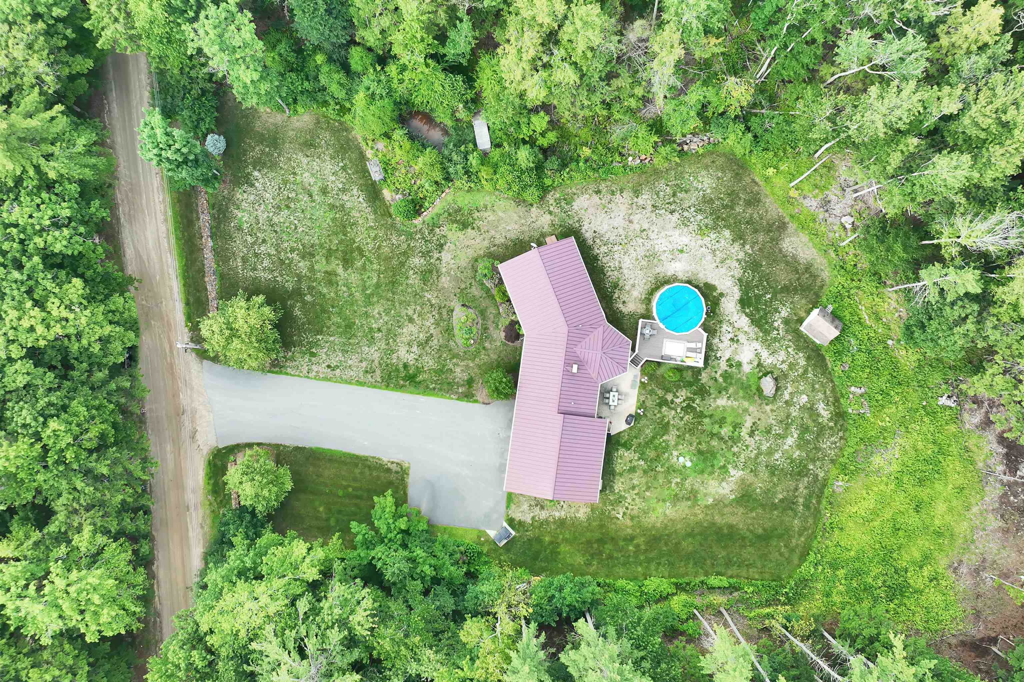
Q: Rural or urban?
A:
rural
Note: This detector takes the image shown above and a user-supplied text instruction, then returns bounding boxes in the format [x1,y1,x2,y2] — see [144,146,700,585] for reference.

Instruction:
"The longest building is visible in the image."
[497,236,633,503]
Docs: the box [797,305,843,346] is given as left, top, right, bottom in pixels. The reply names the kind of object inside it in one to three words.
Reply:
shed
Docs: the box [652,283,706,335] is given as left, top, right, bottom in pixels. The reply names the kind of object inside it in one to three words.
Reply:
swimming pool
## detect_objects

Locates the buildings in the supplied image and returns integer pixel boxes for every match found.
[497,236,633,503]
[797,305,843,346]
